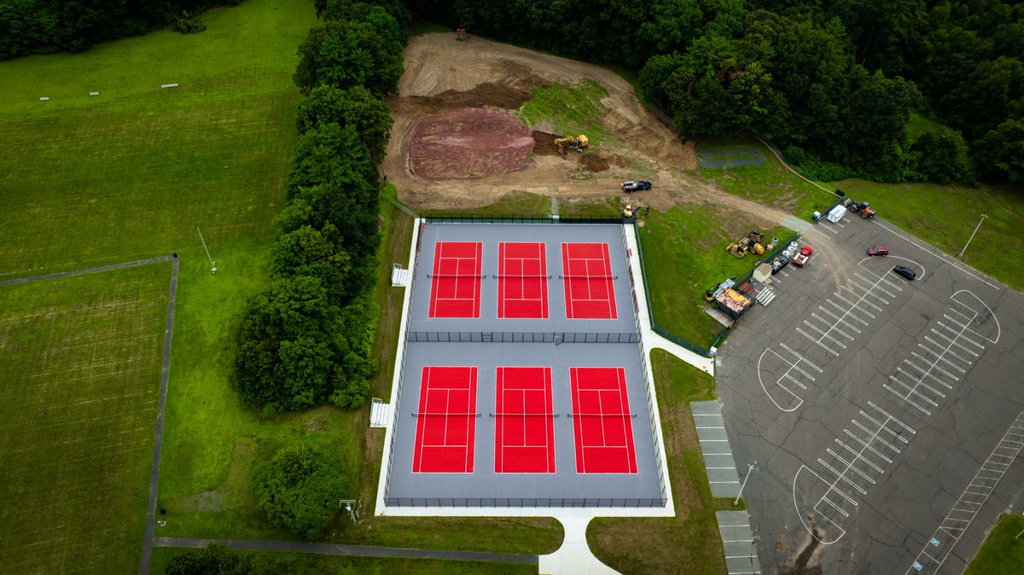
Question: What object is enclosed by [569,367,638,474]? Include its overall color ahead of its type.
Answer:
red tennis court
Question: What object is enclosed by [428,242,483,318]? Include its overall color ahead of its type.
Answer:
red tennis court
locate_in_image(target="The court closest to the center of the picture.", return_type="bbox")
[497,242,549,318]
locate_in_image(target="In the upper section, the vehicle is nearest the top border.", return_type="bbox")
[552,137,589,156]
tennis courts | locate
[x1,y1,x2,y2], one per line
[494,367,556,473]
[412,367,478,473]
[569,367,638,474]
[561,242,618,319]
[428,242,483,318]
[497,242,549,318]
